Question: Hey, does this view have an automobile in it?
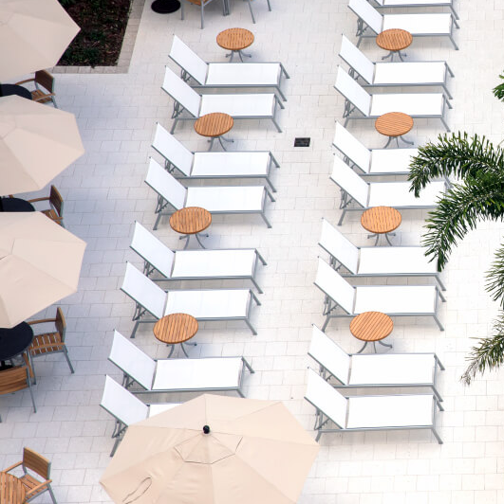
No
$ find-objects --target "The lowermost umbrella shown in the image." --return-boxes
[96,389,326,504]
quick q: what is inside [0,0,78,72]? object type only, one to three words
umbrella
